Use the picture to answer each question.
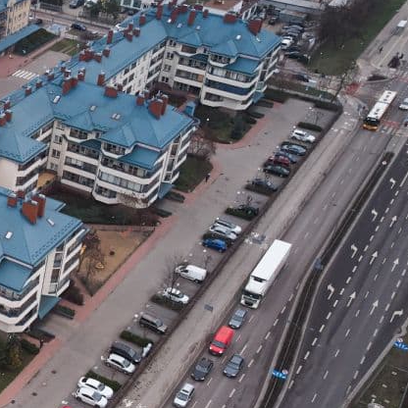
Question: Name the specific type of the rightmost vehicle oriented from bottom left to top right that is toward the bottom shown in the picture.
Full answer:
What you see as the rightmost vehicle oriented from bottom left to top right that is toward the bottom is a truck.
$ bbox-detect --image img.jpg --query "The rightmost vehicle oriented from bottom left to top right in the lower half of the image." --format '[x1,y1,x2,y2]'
[244,237,299,305]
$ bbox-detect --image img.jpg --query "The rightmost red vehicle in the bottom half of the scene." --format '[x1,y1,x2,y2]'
[210,325,233,351]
